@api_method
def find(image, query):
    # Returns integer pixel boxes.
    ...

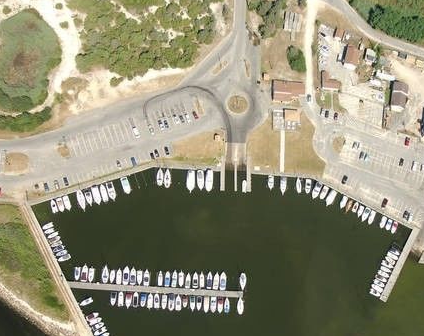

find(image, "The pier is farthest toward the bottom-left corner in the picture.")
[69,281,243,297]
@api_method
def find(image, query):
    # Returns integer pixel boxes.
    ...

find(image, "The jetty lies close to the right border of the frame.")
[380,229,418,302]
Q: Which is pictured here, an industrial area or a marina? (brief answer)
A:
marina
